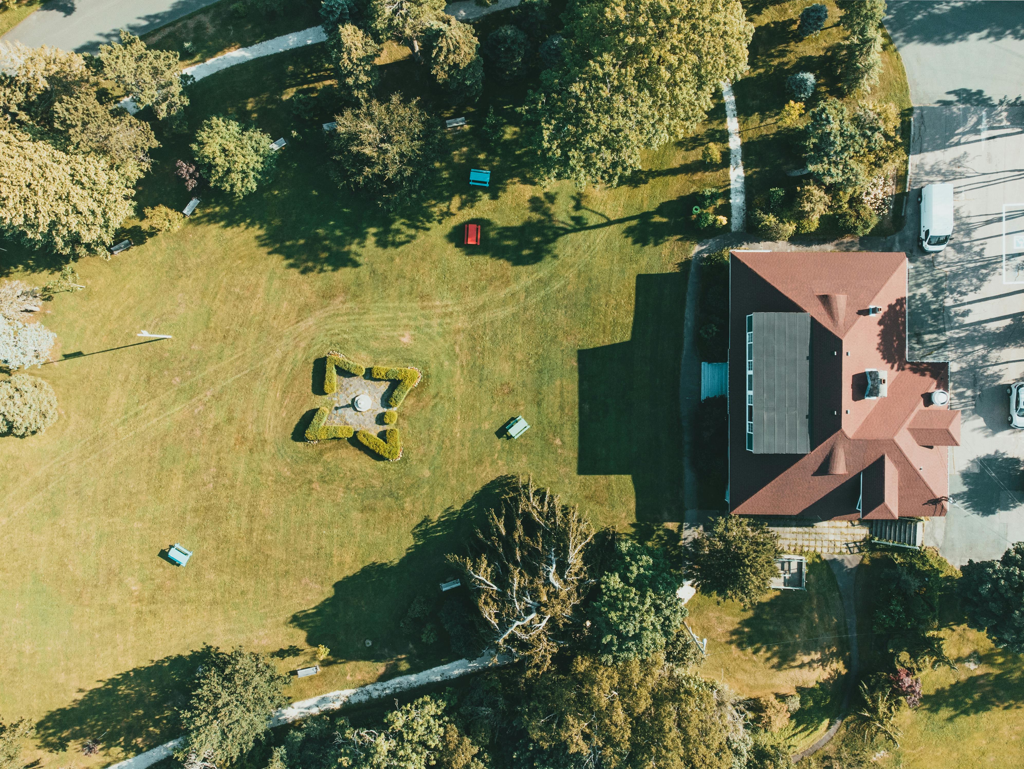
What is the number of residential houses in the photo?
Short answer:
1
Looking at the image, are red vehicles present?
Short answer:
No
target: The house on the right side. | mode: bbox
[721,251,961,518]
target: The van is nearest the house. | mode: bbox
[917,180,956,256]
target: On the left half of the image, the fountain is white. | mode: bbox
[354,394,372,411]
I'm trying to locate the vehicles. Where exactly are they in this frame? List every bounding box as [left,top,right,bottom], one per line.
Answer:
[1006,383,1024,428]
[917,180,956,256]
